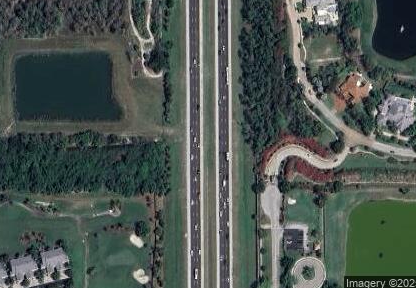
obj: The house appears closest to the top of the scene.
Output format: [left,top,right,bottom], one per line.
[305,0,335,24]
